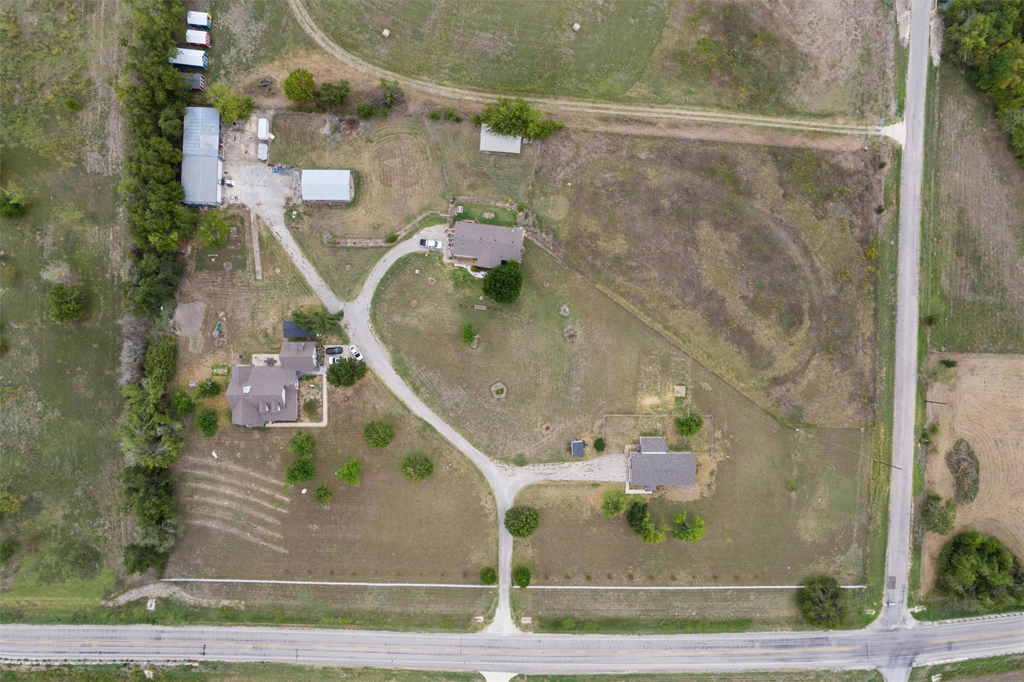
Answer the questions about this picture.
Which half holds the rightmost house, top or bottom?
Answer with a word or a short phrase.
bottom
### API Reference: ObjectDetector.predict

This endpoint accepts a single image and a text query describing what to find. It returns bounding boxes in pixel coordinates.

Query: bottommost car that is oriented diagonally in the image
[348,344,364,360]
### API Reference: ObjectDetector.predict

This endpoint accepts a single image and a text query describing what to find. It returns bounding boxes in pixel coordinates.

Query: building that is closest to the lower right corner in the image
[627,437,697,491]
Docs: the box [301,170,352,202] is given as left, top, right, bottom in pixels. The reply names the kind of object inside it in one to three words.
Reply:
barn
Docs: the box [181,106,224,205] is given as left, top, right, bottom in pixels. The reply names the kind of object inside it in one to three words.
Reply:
building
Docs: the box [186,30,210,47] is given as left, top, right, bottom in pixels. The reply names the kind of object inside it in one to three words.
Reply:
shed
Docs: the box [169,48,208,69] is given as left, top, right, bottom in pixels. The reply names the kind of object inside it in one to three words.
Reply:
shed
